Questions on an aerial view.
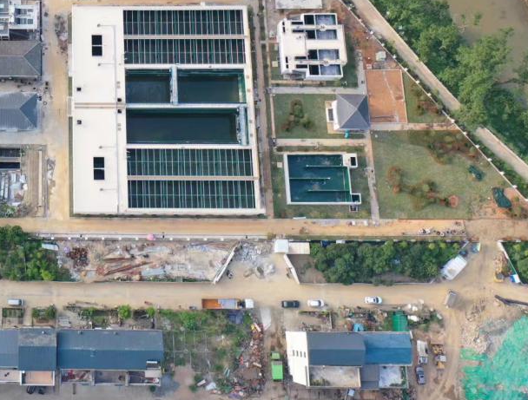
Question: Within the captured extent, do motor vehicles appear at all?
Yes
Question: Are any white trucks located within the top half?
No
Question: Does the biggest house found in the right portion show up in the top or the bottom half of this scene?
bottom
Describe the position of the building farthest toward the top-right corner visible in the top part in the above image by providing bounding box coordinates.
[326,95,370,134]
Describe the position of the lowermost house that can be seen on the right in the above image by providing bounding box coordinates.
[287,330,416,388]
